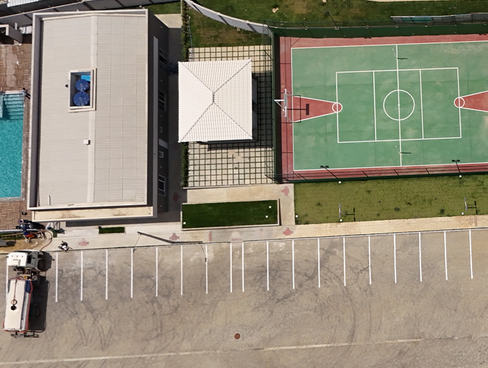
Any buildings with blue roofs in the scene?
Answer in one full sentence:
No, the frame has no building with a blue roof in it.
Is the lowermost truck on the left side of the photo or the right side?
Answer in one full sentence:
It is on the left.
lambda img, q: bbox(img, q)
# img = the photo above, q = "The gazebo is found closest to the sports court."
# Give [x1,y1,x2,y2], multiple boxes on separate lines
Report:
[178,58,258,145]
